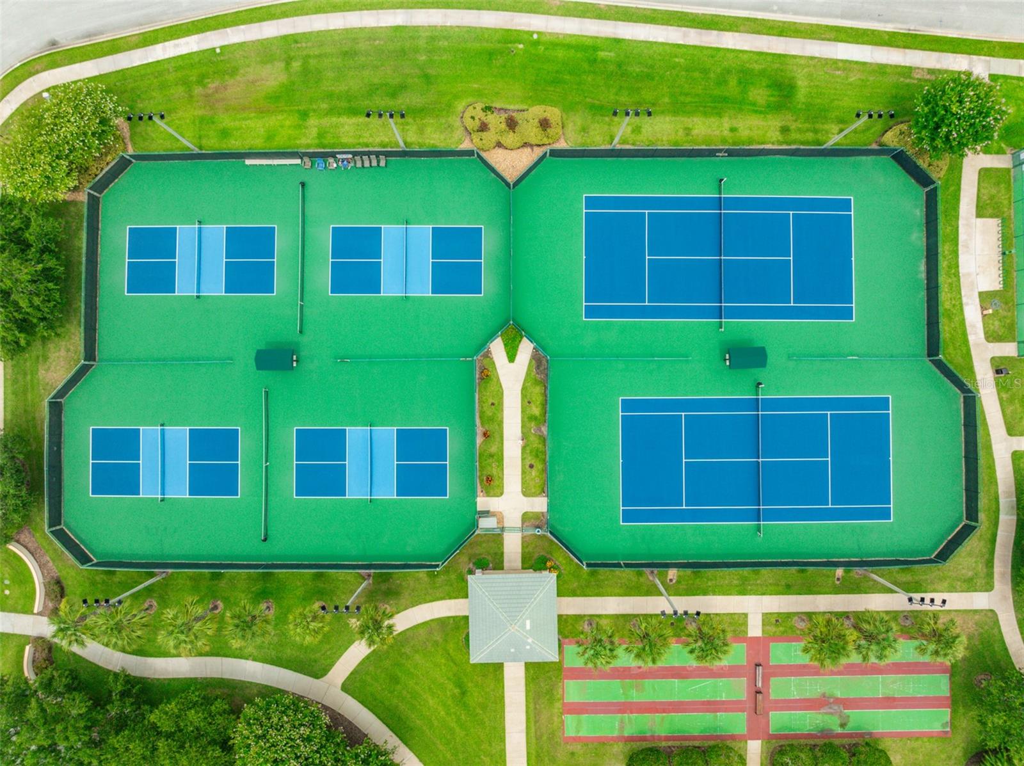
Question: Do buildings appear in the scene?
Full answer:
Yes, there's a building down there.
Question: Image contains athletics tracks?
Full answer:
No, I can't see a single athletics track in this photo.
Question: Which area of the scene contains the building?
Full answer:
The building sits in the bottom section of the image.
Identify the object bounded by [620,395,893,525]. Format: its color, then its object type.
blue tennis court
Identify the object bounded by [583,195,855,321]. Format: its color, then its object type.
blue tennis court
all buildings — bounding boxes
[468,567,558,664]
